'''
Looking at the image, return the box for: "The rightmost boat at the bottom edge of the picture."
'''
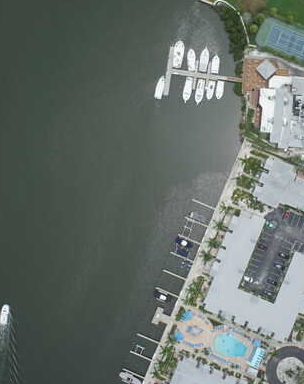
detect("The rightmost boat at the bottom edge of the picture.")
[118,370,141,384]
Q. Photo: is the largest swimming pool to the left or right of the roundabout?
on its left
